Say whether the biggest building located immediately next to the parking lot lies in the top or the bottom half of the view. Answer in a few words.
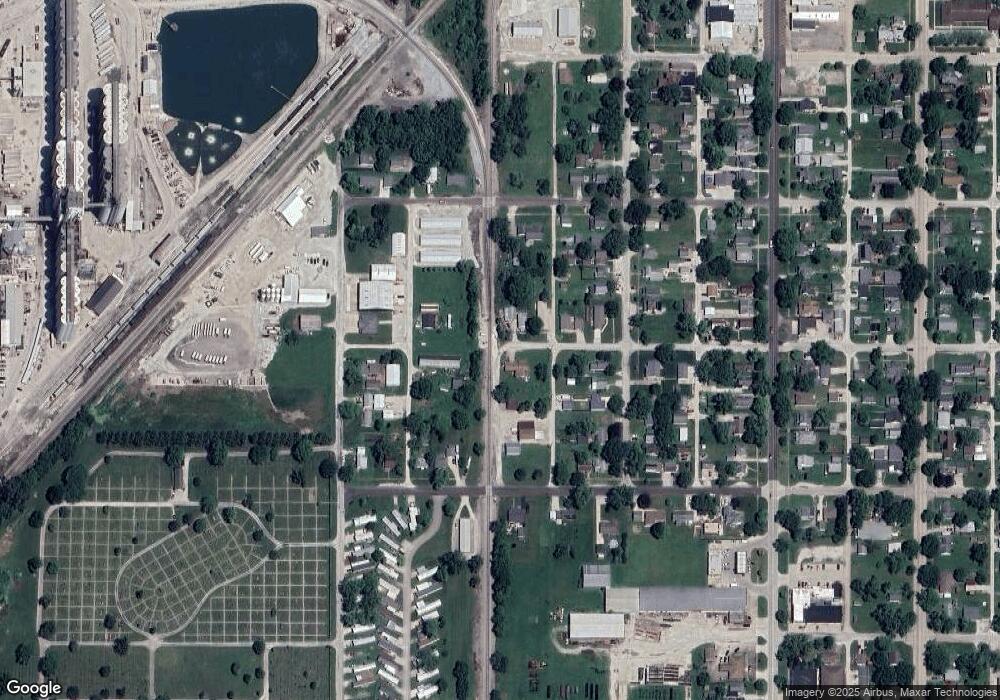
bottom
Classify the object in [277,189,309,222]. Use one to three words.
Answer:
building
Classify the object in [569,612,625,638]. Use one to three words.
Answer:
building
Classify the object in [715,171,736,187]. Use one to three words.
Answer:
house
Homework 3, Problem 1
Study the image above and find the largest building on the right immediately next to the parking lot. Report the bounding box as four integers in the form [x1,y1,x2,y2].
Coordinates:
[639,587,747,613]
